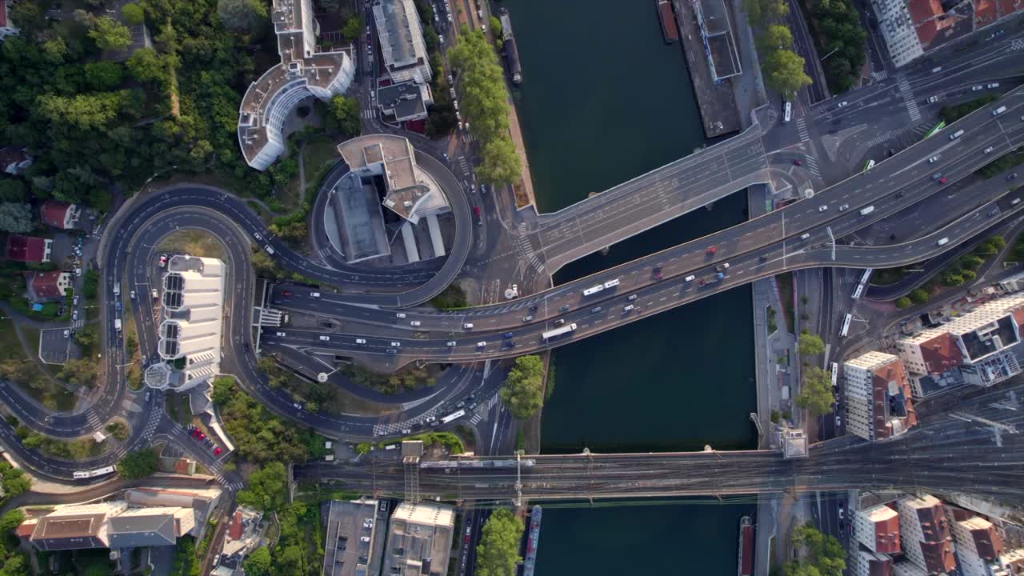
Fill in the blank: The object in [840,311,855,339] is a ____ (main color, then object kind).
white vehicle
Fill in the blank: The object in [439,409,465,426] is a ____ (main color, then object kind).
white vehicle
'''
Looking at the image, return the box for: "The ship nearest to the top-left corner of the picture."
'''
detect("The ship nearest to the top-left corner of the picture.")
[499,7,521,84]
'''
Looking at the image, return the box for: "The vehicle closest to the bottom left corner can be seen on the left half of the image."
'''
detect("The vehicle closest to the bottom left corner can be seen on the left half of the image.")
[70,466,115,481]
